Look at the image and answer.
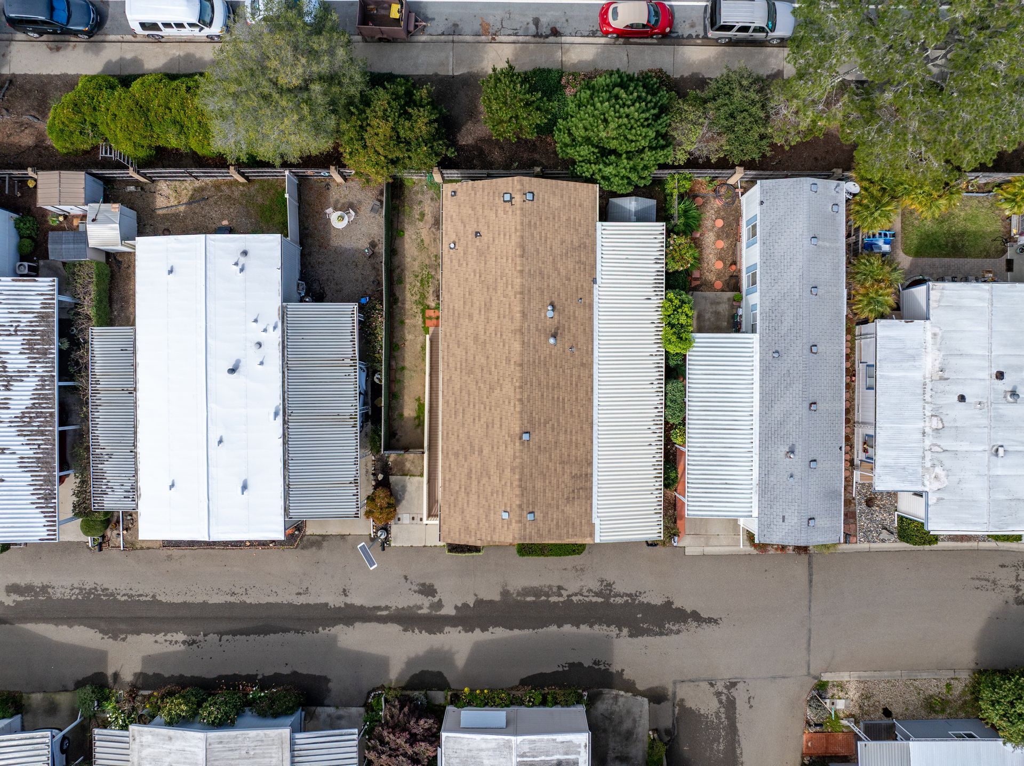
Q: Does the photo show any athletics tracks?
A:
No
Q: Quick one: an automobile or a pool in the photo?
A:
automobile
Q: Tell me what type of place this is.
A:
residential area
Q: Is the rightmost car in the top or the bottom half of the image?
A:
top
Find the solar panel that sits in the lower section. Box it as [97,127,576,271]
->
[355,541,379,570]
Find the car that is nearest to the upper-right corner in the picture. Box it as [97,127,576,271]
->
[700,0,795,43]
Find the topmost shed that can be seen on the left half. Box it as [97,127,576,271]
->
[37,170,104,214]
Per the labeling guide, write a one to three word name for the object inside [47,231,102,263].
shed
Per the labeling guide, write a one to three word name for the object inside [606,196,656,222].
shed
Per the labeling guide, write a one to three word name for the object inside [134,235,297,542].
house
